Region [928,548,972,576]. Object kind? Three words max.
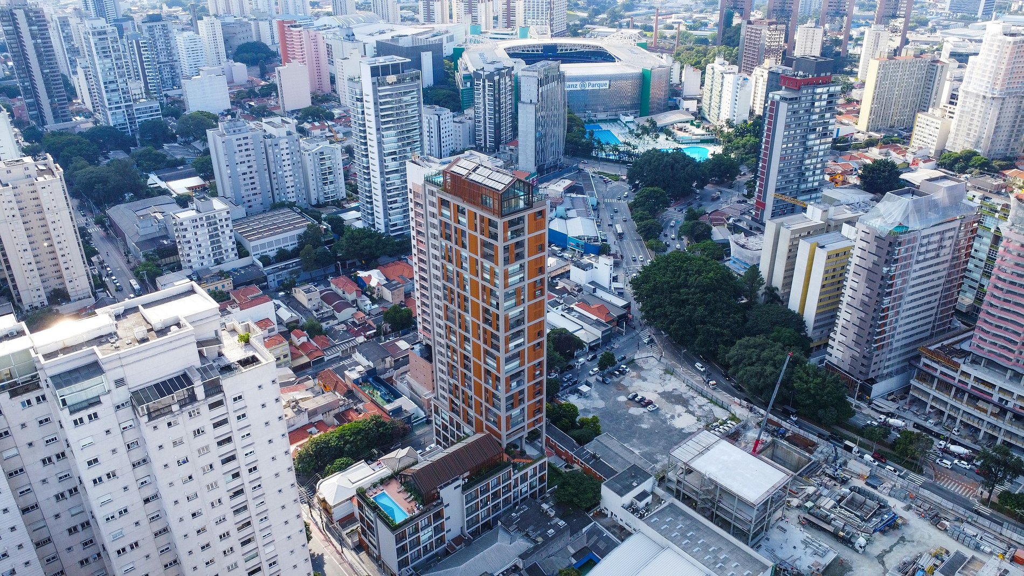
building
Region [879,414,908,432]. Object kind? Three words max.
vehicle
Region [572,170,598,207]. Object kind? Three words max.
building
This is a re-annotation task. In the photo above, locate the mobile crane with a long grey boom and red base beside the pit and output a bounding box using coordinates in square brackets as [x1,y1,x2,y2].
[752,350,797,459]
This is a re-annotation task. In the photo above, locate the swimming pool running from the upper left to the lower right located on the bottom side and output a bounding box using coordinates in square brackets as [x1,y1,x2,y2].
[371,492,410,525]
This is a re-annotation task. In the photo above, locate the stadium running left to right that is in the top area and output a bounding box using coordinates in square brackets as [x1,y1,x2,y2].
[458,23,685,118]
